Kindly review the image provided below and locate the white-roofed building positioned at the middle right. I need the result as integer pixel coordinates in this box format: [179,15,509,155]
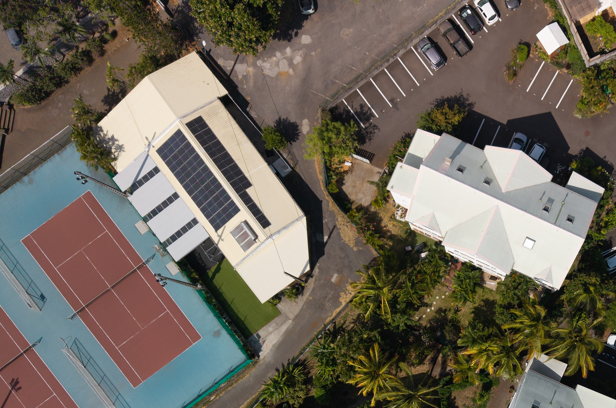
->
[386,128,605,290]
